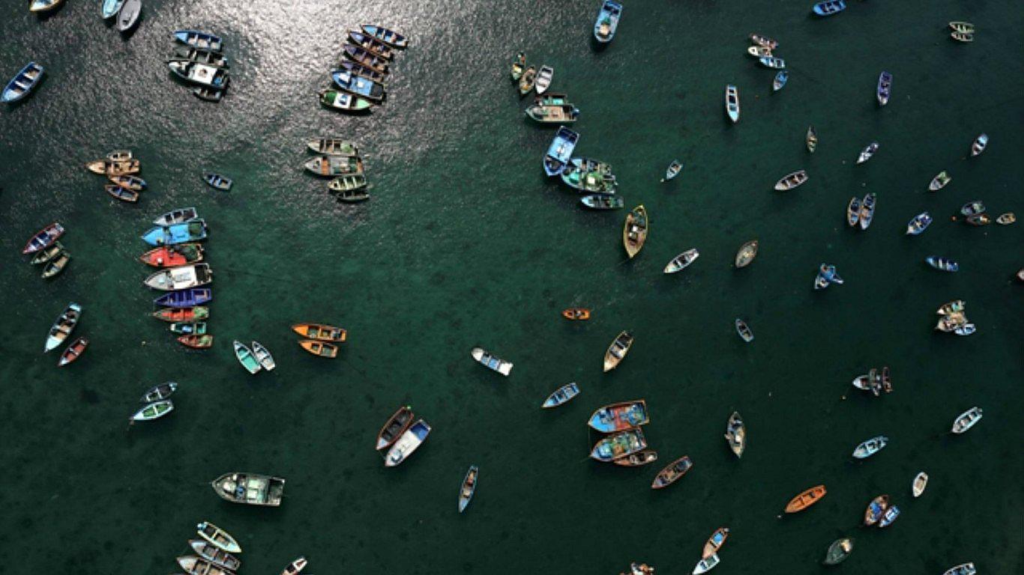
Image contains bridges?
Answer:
No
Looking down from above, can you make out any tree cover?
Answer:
No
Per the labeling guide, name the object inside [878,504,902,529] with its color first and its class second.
blue boat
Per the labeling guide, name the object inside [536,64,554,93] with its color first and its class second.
white boat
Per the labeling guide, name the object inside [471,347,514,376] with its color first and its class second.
white boat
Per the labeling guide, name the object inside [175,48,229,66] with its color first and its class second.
gray boat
